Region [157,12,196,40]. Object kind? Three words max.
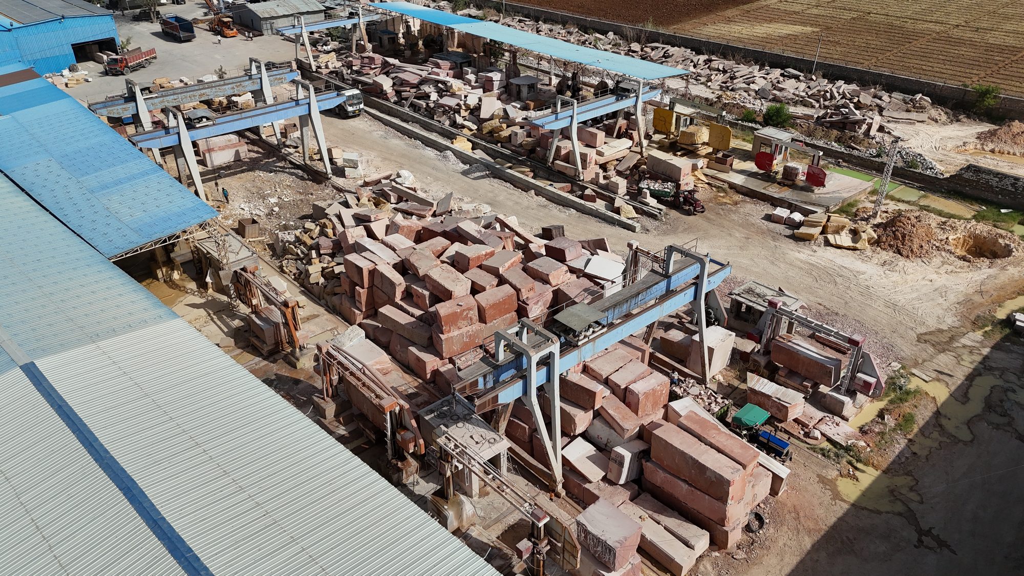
truck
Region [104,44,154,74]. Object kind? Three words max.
truck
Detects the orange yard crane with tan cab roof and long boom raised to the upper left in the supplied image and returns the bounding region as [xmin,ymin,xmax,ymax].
[181,0,238,36]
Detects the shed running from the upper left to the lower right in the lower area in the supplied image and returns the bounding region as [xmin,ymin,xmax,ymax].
[0,168,503,576]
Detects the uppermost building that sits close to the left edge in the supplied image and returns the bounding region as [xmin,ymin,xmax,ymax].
[0,1,120,75]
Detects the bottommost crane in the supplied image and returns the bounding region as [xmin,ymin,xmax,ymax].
[436,227,732,484]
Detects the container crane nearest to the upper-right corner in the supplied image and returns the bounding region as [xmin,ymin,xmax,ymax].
[523,73,662,179]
